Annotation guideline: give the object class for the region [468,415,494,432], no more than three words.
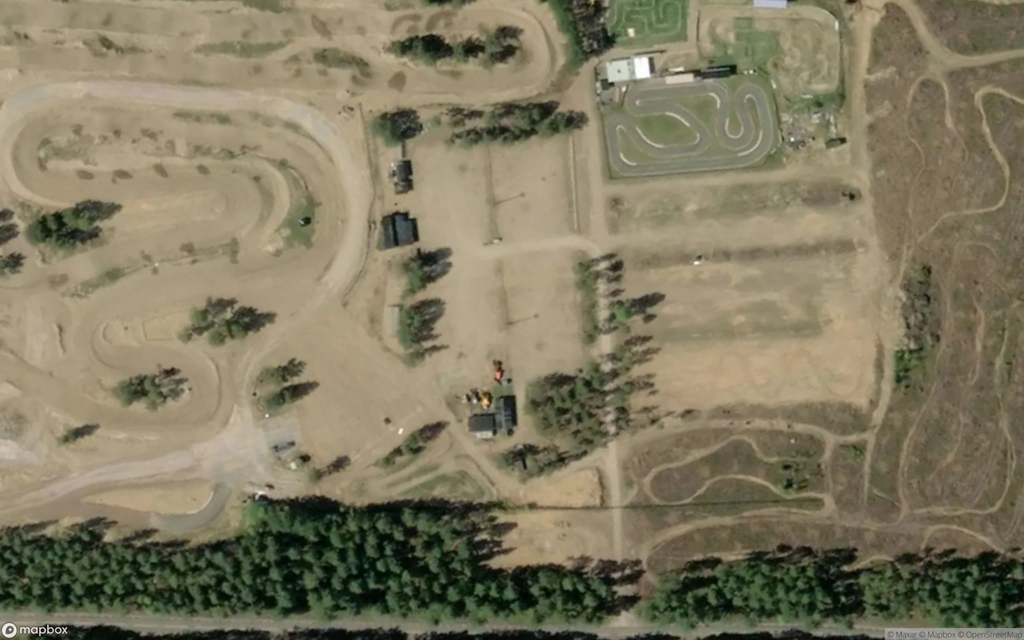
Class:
building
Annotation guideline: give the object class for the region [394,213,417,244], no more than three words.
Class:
shed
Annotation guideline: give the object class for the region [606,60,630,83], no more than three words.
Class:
building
